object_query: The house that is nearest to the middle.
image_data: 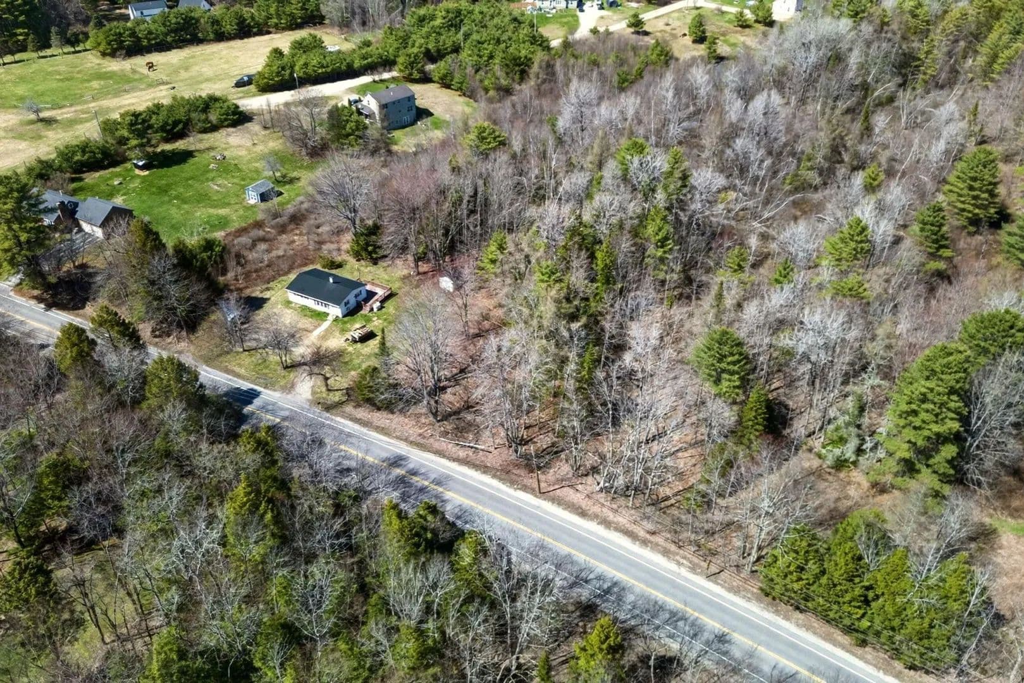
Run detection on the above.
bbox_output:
[283,267,390,321]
